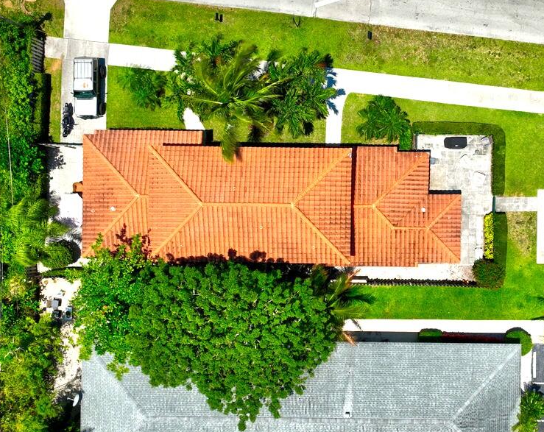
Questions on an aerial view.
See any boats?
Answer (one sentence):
No, the picture doesn't show any boat.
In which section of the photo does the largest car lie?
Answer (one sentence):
Look in the top left portion of the view to spot the largest car.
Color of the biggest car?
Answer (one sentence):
The color of the biggest car is white.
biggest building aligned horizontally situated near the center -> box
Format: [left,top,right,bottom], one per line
[72,130,463,268]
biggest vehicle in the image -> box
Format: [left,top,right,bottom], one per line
[67,54,104,121]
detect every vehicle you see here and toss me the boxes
[55,102,71,136]
[67,54,104,121]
